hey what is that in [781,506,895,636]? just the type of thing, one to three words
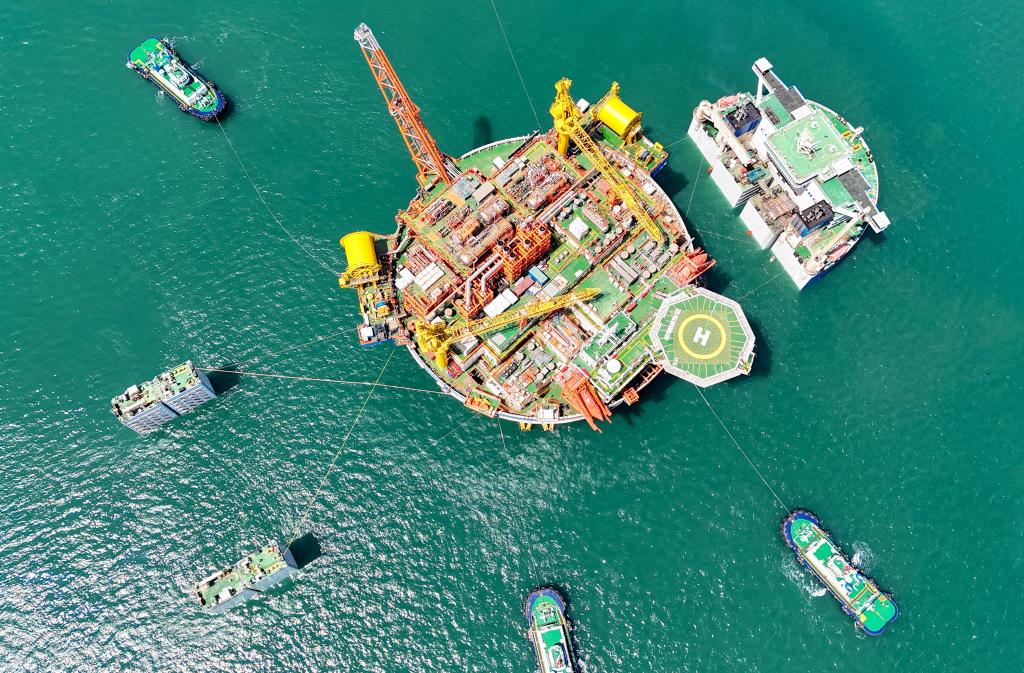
boat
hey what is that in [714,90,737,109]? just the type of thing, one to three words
boat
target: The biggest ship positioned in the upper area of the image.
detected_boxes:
[690,53,895,290]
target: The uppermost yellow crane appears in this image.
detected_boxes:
[551,72,664,247]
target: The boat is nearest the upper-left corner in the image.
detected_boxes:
[129,43,225,122]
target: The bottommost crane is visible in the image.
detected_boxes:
[415,296,599,370]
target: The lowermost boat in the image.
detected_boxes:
[526,585,584,673]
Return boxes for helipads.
[648,287,758,387]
